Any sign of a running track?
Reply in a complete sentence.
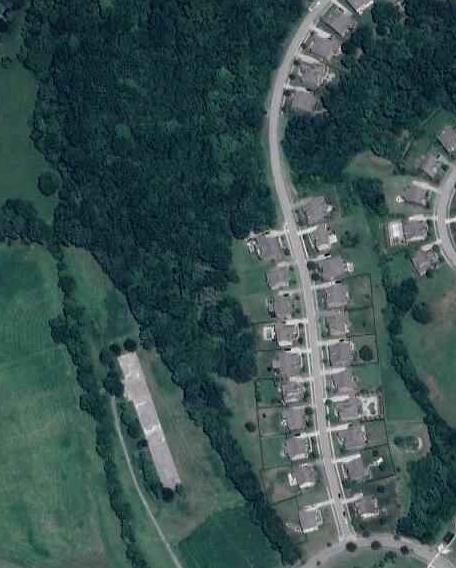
No, I can see no running track in this picture.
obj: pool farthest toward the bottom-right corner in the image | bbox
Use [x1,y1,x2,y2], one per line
[363,398,379,420]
